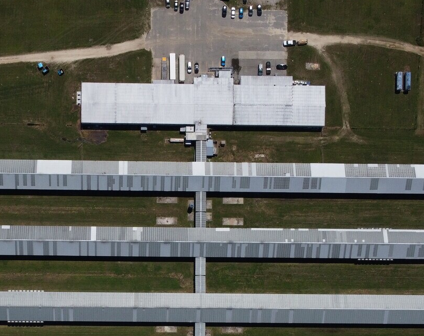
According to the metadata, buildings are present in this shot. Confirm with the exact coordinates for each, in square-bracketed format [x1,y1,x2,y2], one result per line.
[78,71,325,157]
[0,290,424,324]
[0,159,424,194]
[0,225,424,261]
